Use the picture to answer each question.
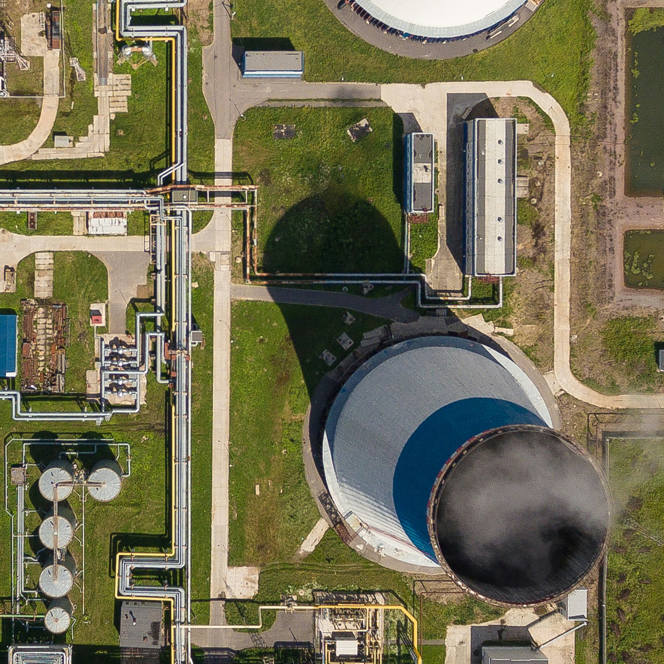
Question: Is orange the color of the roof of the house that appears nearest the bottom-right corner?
No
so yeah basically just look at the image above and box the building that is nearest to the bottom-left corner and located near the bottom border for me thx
[120,601,162,648]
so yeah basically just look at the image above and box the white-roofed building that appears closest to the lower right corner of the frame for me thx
[557,583,588,620]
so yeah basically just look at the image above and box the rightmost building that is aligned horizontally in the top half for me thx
[242,51,303,75]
